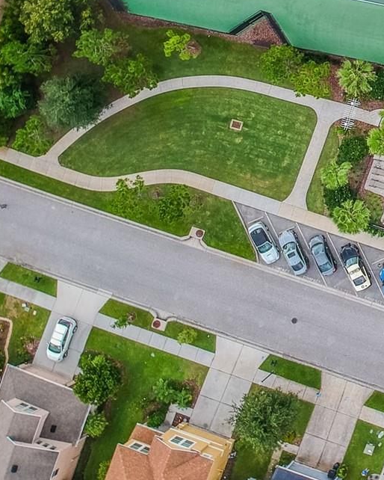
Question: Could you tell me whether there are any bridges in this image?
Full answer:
No, I find no bridge anywhere in the image.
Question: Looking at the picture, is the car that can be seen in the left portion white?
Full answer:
Yes, white is the color of the car that can be seen in the left portion.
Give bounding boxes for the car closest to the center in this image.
[245,218,280,266]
